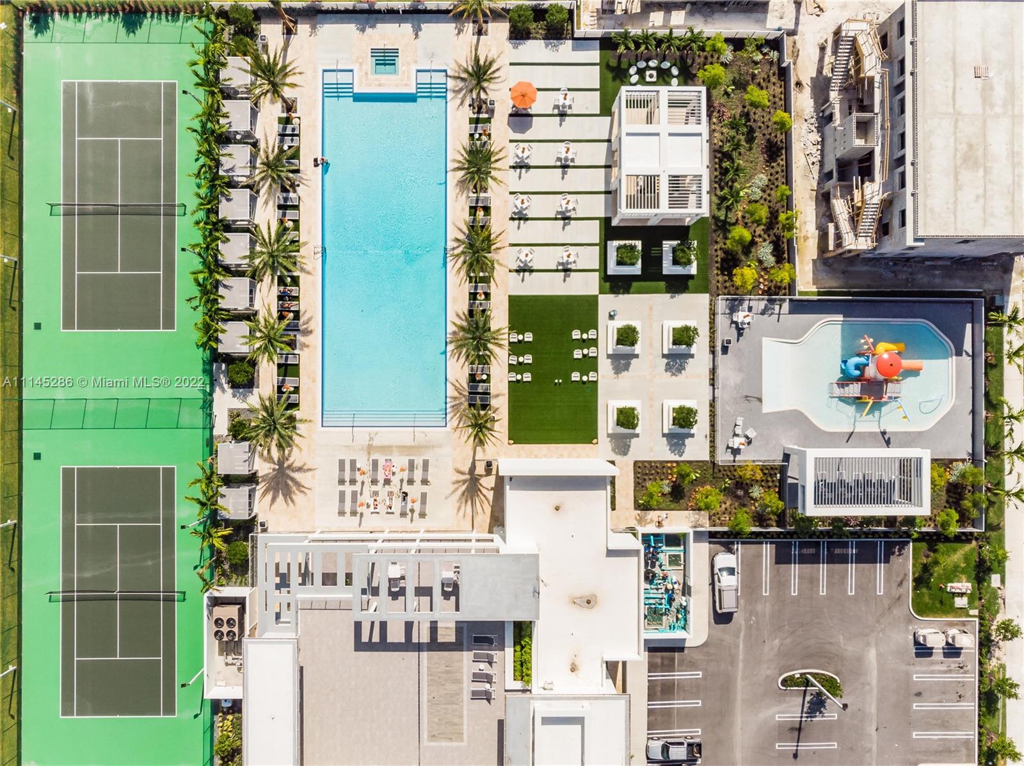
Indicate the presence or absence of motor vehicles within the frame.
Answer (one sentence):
Yes, you can see a motor vehicle in this photo.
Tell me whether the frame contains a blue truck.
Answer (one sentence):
No, the photo shows no blue truck.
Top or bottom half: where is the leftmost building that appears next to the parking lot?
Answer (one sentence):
It is in the bottom half that the leftmost building that appears next to the parking lot appears.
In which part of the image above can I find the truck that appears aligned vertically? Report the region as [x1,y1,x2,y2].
[712,553,740,615]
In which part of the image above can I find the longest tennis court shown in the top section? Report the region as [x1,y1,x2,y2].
[23,11,212,414]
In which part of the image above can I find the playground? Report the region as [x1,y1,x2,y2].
[820,335,927,421]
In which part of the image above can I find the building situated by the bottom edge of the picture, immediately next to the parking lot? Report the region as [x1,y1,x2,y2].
[243,460,643,766]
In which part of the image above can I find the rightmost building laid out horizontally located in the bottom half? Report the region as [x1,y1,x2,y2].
[782,445,930,515]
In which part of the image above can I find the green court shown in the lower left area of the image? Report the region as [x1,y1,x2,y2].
[23,414,212,766]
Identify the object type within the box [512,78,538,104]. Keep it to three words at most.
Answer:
umbrella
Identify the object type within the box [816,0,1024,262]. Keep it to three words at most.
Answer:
building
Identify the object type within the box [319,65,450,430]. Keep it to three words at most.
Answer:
swimming pool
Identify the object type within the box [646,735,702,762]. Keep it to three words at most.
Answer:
truck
